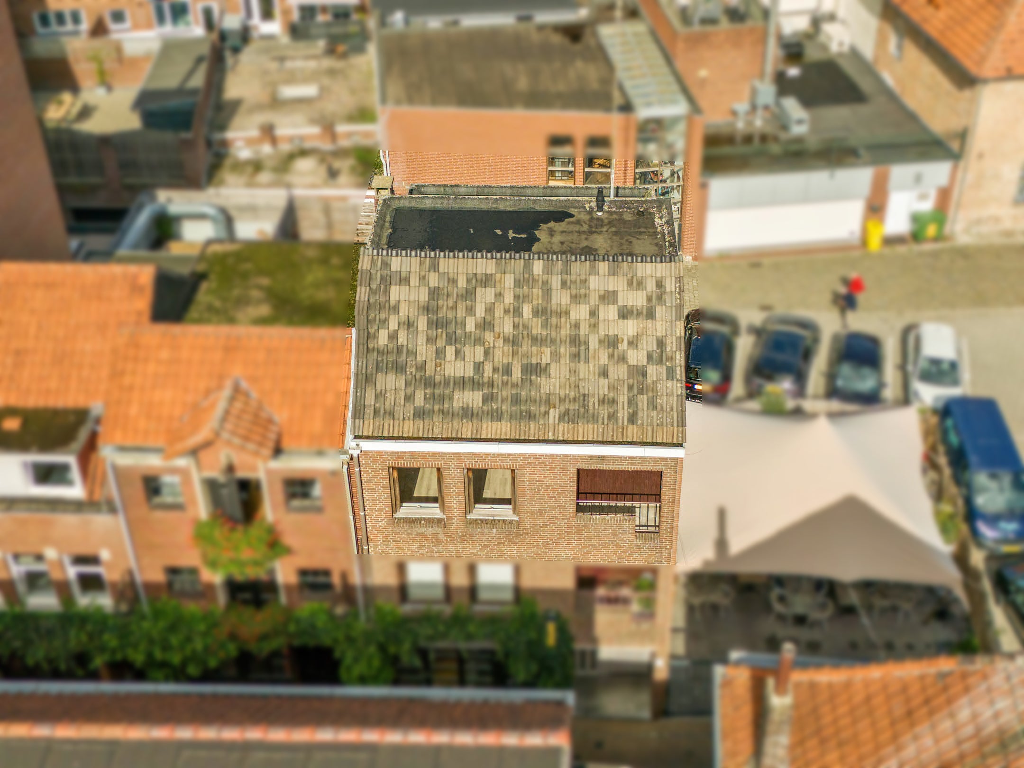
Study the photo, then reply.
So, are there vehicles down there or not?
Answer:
Yes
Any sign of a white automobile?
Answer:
Yes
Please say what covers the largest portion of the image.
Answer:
buildings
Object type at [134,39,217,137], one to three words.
shed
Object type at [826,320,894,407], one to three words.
car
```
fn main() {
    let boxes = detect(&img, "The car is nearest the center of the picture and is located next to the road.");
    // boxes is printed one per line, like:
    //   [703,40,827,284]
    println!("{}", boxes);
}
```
[685,322,749,404]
